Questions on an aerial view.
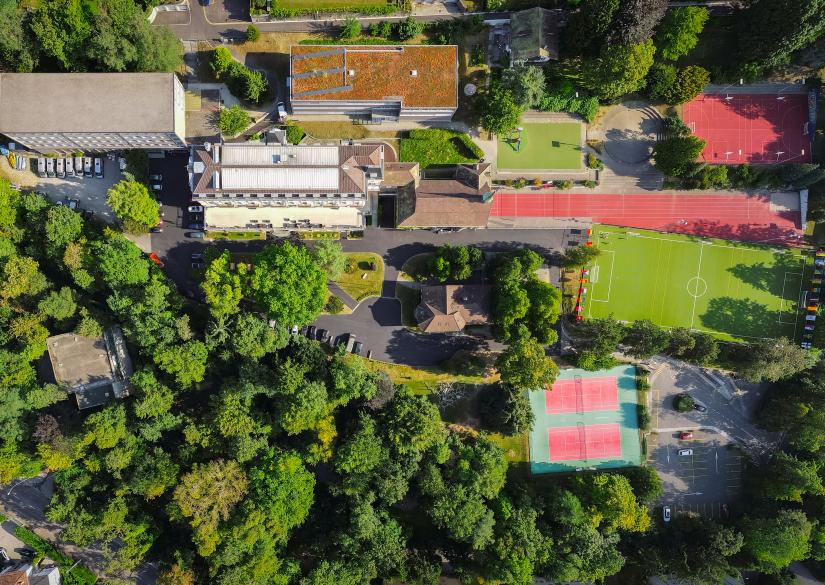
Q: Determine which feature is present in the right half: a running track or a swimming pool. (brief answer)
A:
running track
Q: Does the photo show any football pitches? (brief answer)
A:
Yes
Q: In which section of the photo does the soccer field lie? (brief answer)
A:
right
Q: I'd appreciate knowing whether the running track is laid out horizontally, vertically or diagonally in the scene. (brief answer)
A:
horizontally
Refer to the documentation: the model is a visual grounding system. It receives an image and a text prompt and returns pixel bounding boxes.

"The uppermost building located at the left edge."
[0,72,189,148]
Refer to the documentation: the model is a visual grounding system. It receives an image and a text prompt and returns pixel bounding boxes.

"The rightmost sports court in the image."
[684,93,812,165]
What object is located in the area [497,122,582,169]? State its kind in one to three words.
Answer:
sports court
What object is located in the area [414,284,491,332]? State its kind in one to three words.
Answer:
building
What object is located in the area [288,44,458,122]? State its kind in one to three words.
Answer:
building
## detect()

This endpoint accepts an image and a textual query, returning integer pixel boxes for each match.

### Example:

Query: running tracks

[488,192,803,248]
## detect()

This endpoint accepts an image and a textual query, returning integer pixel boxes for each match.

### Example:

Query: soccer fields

[579,222,812,347]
